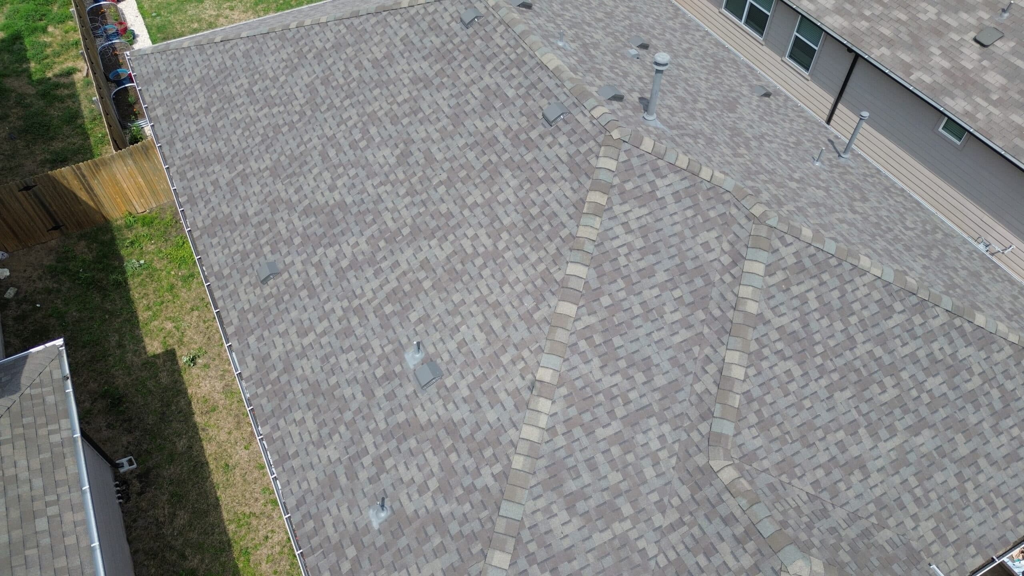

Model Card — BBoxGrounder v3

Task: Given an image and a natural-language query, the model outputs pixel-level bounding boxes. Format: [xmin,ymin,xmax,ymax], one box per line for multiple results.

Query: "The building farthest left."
[0,305,138,576]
